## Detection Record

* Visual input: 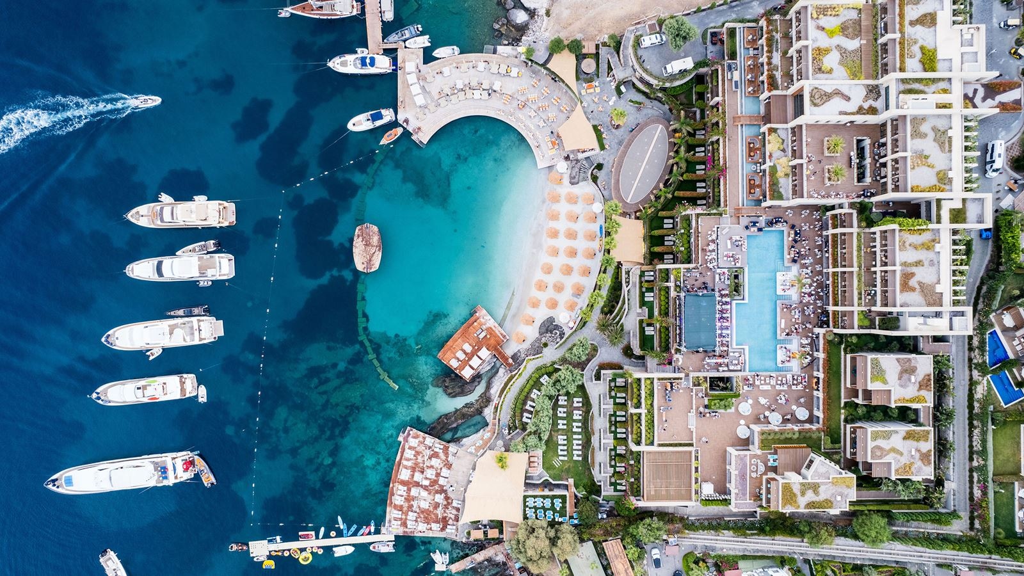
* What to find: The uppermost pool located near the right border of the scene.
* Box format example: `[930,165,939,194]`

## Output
[984,327,1007,370]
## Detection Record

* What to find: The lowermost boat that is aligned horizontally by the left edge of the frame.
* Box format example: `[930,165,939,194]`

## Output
[45,447,203,493]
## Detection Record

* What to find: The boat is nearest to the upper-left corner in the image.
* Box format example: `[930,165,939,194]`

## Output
[126,96,162,108]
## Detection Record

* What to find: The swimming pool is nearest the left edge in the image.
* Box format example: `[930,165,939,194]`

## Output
[714,220,800,375]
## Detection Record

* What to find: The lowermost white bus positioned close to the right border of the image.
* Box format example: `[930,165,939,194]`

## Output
[987,138,1011,178]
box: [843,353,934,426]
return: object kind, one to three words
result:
house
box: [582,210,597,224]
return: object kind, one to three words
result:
umbrella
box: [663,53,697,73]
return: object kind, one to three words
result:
vehicle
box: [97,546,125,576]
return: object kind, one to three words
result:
boat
